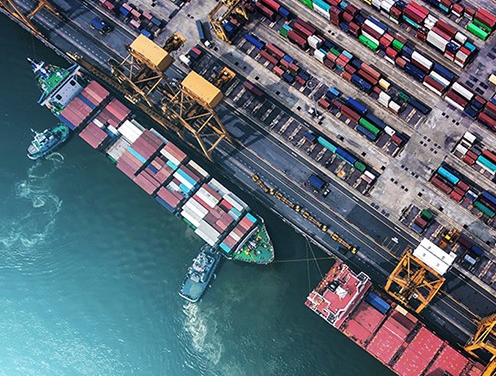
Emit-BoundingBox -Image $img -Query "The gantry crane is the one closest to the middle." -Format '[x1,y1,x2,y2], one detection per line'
[162,54,235,164]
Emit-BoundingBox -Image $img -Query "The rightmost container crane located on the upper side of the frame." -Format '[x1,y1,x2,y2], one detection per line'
[204,0,252,48]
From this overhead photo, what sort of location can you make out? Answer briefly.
port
